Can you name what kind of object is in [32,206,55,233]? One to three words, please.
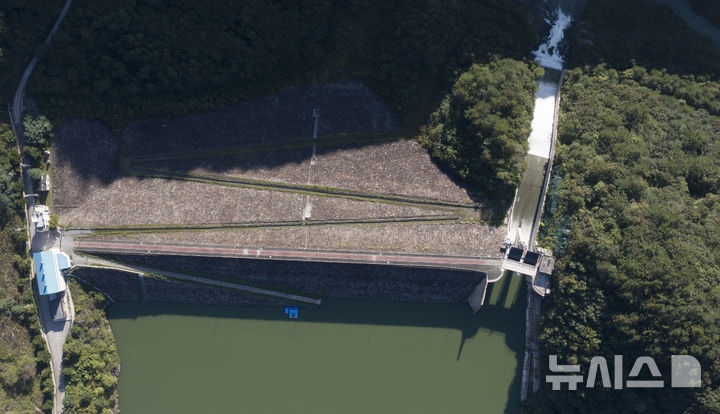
building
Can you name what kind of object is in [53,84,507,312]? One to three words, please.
dam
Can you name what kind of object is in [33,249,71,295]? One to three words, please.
building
